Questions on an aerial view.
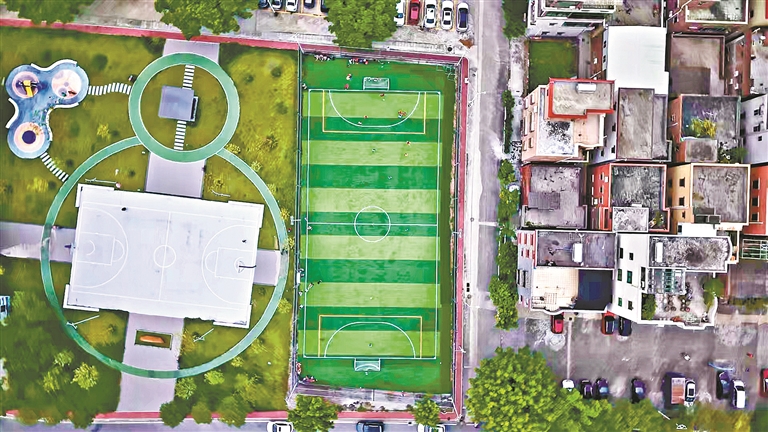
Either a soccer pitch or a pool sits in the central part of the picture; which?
soccer pitch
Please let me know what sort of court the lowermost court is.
basketball court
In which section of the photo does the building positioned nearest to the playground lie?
top left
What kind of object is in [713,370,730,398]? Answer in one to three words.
car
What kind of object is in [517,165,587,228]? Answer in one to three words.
house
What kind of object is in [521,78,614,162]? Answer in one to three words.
house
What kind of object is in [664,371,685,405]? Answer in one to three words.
truck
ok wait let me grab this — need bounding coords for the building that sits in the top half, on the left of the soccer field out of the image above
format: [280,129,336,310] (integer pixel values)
[158,86,201,124]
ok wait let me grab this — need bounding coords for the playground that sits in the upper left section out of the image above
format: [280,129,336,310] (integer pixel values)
[5,58,88,158]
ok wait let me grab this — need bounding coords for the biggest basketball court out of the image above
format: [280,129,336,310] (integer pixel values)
[68,188,261,326]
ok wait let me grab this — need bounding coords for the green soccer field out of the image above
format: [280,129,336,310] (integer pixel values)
[297,53,457,395]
